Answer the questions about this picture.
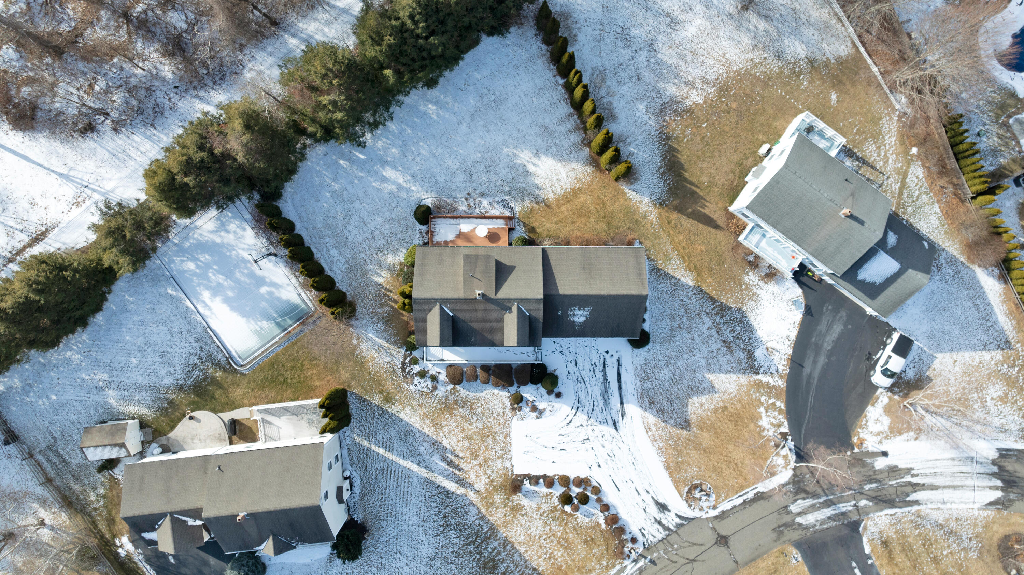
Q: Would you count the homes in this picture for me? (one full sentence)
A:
My tally gives 3 homes in this view.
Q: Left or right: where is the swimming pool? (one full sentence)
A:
The swimming pool sits on the right side.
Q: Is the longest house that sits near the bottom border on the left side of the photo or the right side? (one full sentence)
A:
You can find the longest house that sits near the bottom border on the left side of the picture.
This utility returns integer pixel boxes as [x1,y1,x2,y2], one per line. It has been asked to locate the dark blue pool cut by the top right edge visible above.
[994,27,1024,74]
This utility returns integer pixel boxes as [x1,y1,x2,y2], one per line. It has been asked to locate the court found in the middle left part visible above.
[157,203,319,368]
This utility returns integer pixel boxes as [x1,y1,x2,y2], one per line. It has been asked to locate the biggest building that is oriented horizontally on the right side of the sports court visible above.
[412,245,648,348]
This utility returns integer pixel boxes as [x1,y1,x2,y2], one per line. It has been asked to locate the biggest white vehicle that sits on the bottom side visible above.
[868,332,913,389]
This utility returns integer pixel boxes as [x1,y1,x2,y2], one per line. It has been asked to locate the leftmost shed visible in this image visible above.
[80,419,154,461]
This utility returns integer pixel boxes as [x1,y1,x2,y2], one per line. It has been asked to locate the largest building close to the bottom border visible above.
[120,436,353,559]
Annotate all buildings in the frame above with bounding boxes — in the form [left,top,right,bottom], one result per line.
[412,245,648,348]
[120,436,353,559]
[80,419,154,461]
[731,132,937,318]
